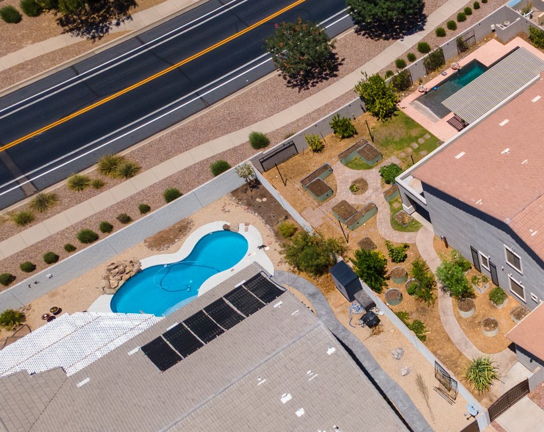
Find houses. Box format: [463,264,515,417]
[394,74,544,383]
[0,258,413,432]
